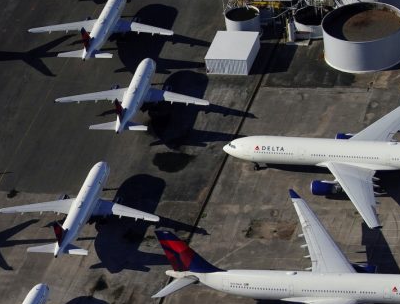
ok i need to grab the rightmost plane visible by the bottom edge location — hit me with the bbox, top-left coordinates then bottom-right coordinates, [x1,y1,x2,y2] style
[153,187,400,304]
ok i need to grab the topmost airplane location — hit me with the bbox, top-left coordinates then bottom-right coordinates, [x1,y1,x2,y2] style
[25,0,174,61]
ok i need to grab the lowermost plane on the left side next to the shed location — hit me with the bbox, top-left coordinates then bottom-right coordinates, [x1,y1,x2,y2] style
[53,57,210,133]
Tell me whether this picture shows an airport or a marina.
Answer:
airport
